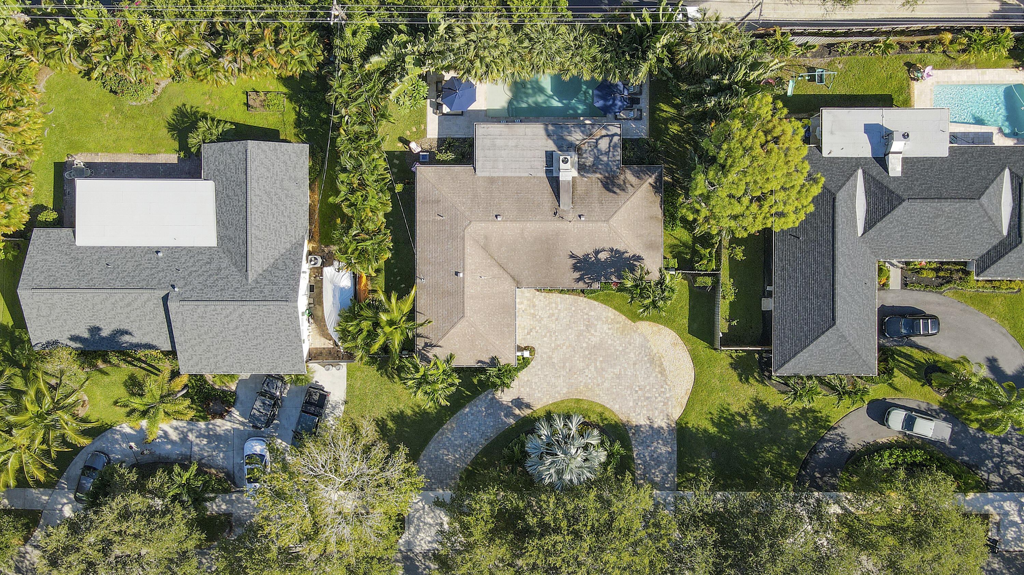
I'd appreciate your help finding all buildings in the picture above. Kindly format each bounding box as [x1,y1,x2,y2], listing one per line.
[414,121,665,368]
[767,106,1024,378]
[18,139,311,376]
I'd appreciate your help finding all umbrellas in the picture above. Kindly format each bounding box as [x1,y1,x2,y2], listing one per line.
[592,79,629,116]
[440,76,476,111]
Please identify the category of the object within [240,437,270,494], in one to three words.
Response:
car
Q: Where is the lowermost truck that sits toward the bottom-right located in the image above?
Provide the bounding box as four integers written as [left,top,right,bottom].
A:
[880,407,955,445]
